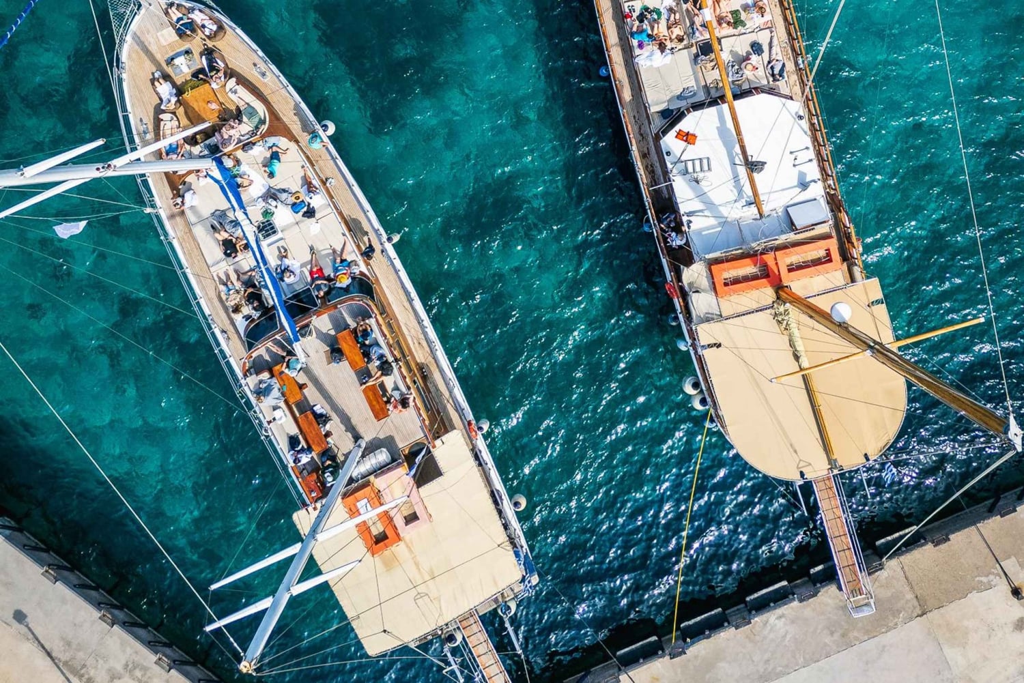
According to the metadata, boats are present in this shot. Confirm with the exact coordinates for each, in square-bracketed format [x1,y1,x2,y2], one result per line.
[594,0,1024,561]
[0,0,537,671]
